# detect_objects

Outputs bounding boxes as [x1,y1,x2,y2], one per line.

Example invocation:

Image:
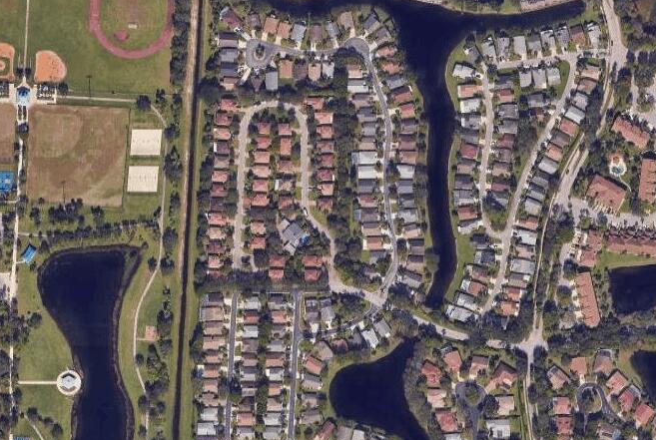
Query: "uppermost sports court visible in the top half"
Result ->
[130,129,162,156]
